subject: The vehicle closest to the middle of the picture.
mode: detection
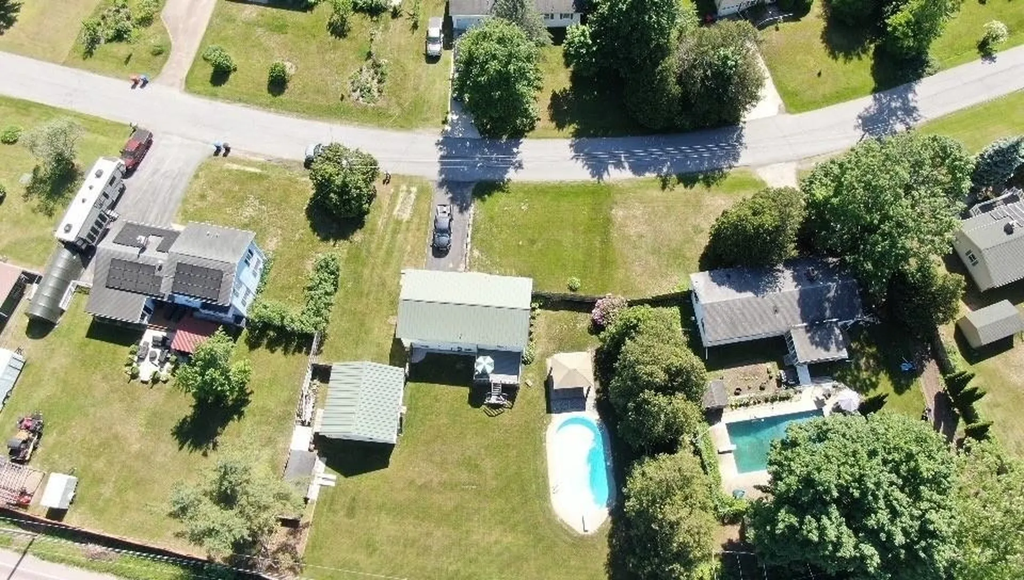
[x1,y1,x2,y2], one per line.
[432,208,451,252]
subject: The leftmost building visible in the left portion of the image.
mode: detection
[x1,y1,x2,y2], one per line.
[0,263,32,313]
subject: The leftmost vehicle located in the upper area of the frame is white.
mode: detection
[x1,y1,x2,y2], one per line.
[57,160,125,248]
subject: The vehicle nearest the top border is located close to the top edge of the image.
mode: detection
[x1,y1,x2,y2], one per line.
[426,20,442,54]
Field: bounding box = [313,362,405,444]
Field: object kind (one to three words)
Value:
building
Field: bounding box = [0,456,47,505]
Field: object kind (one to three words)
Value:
trailer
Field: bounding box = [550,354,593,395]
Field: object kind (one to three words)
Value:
gazebo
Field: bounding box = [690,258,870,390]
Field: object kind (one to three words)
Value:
house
